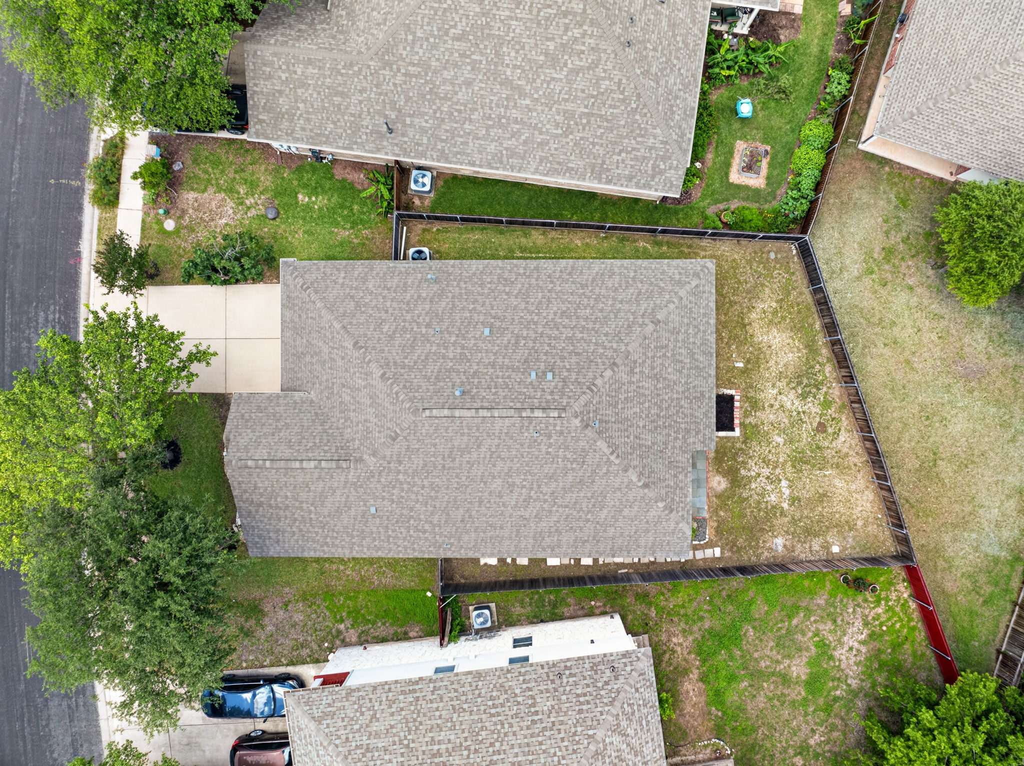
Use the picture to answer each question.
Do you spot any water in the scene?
No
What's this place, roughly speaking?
residential area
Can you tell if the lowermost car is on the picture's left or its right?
left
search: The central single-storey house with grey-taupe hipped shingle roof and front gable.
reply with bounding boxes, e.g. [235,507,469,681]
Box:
[221,257,715,557]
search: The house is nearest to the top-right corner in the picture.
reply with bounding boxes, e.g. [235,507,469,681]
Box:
[858,0,1024,196]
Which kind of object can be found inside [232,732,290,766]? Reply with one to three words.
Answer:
car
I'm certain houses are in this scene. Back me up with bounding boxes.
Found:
[858,0,1024,196]
[281,613,664,766]
[221,257,715,557]
[240,0,783,201]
